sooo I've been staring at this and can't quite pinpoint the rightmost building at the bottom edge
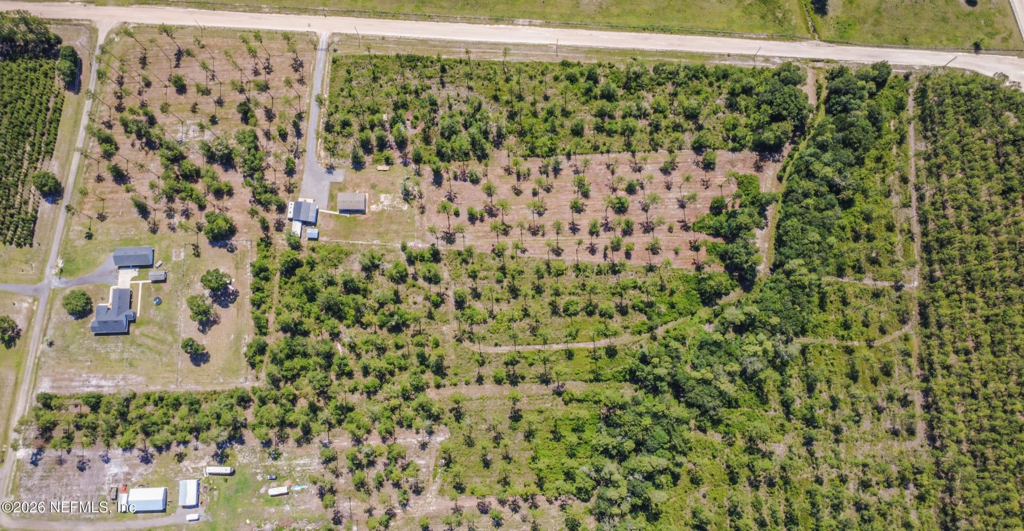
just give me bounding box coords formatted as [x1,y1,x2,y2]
[179,479,201,505]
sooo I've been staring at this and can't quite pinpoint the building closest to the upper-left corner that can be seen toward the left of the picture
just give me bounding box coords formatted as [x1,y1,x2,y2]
[113,246,156,267]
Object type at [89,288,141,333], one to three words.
house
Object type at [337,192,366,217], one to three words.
house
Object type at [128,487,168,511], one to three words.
barn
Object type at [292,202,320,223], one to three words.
building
